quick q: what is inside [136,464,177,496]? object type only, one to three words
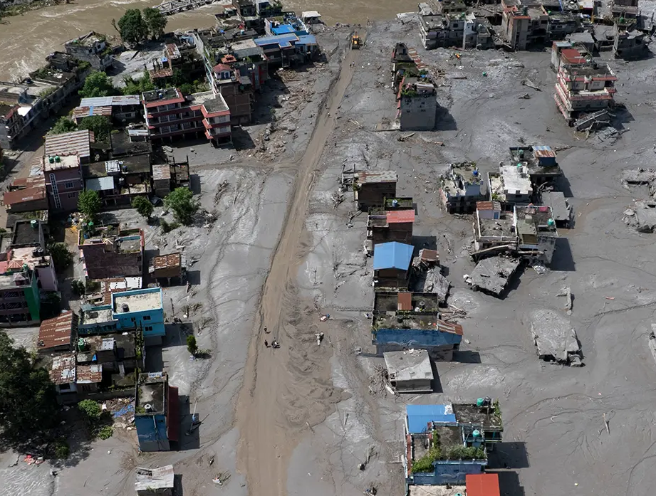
shed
